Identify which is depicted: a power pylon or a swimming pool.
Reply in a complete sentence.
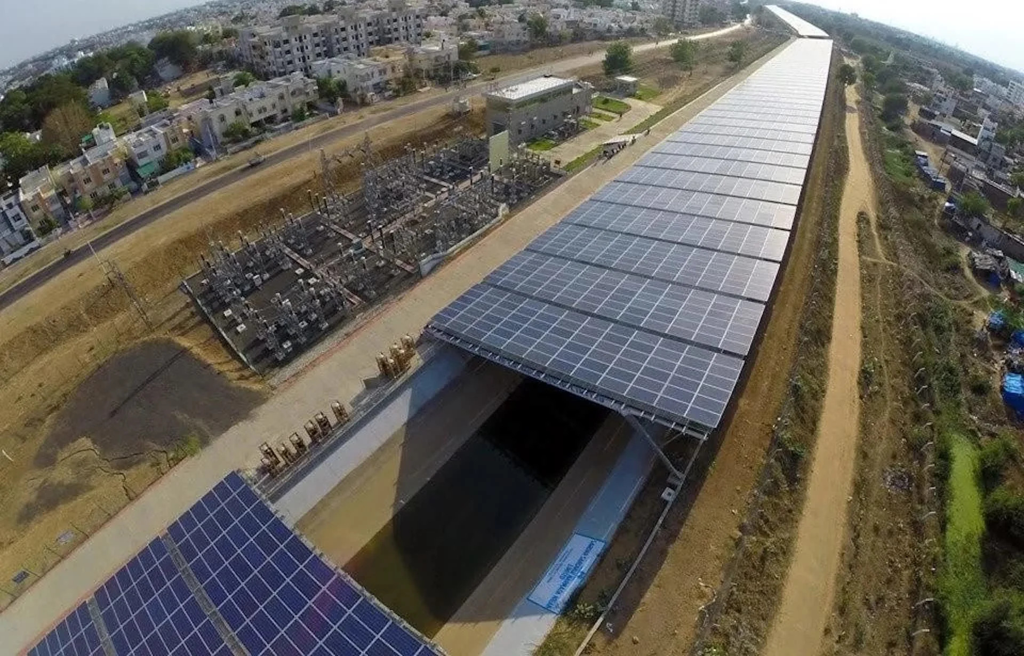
I can see a power pylon in this picture.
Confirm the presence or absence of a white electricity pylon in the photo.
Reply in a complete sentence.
No, no white electricity pylon is visible in the view.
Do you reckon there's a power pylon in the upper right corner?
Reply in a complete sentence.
No, there's no power pylon to be seen in the upper right corner.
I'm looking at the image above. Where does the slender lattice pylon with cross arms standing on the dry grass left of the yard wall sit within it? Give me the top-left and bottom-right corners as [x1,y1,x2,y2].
[112,263,157,336]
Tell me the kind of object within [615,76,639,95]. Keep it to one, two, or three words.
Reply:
shed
